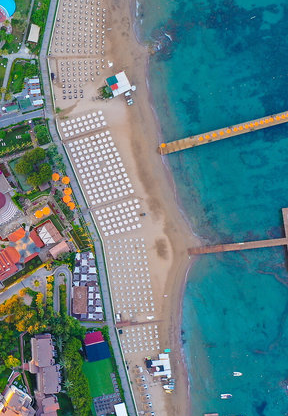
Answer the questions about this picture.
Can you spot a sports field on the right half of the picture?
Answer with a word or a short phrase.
No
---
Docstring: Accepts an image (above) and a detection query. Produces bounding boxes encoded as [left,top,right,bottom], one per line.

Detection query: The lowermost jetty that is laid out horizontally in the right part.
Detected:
[188,238,284,255]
